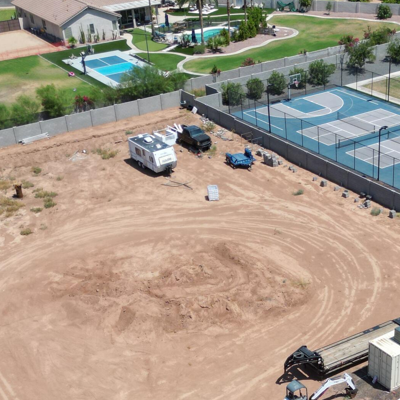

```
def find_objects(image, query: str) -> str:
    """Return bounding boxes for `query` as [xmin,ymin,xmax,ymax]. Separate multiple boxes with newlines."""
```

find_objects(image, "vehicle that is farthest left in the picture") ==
[128,134,174,175]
